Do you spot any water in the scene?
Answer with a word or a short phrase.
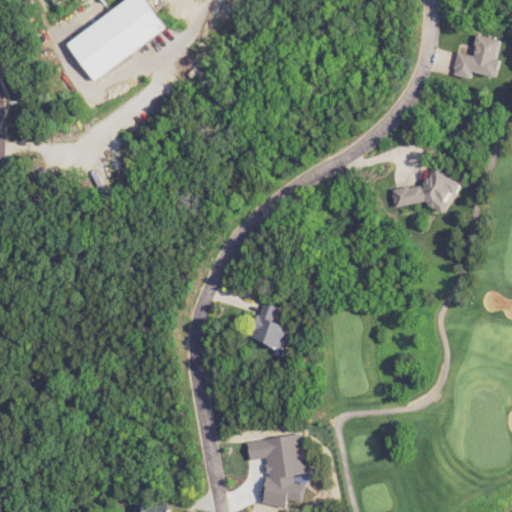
No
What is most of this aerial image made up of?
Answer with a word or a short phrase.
trees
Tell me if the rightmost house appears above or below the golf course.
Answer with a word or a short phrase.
above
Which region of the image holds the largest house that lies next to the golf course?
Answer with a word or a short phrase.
bottom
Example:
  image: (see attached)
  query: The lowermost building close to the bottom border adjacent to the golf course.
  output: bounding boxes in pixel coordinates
[247,433,306,508]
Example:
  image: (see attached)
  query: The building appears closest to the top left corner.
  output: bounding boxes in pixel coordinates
[66,0,165,80]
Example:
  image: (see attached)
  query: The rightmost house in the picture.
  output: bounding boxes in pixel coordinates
[454,33,504,78]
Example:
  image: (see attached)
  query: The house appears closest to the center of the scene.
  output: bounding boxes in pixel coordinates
[252,303,285,349]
